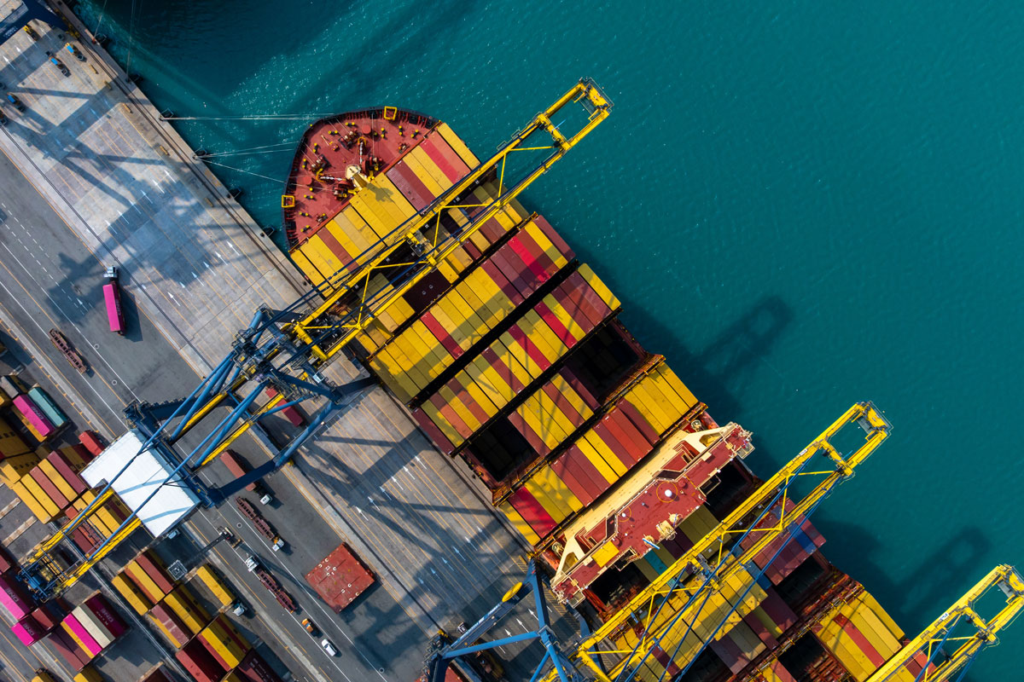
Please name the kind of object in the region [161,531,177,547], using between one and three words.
car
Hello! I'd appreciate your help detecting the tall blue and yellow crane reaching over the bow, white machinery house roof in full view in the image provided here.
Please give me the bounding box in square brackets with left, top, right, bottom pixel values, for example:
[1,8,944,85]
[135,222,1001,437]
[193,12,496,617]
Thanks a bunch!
[14,77,615,608]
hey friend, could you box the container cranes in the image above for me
[0,0,90,50]
[14,77,615,608]
[854,556,1024,682]
[417,398,895,682]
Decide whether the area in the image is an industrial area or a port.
port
